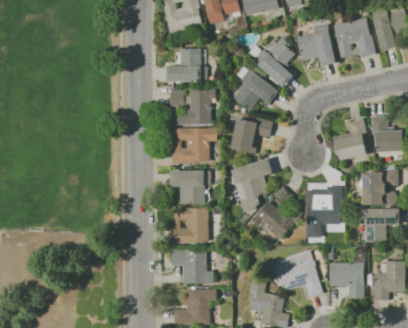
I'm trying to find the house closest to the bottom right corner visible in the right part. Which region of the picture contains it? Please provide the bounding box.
[367,261,406,300]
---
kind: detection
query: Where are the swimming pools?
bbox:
[236,33,260,46]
